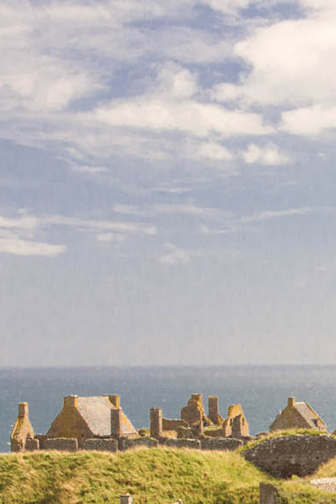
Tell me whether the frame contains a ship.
No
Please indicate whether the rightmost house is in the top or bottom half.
bottom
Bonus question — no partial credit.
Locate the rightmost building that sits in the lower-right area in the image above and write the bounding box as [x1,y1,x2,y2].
[268,397,336,432]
